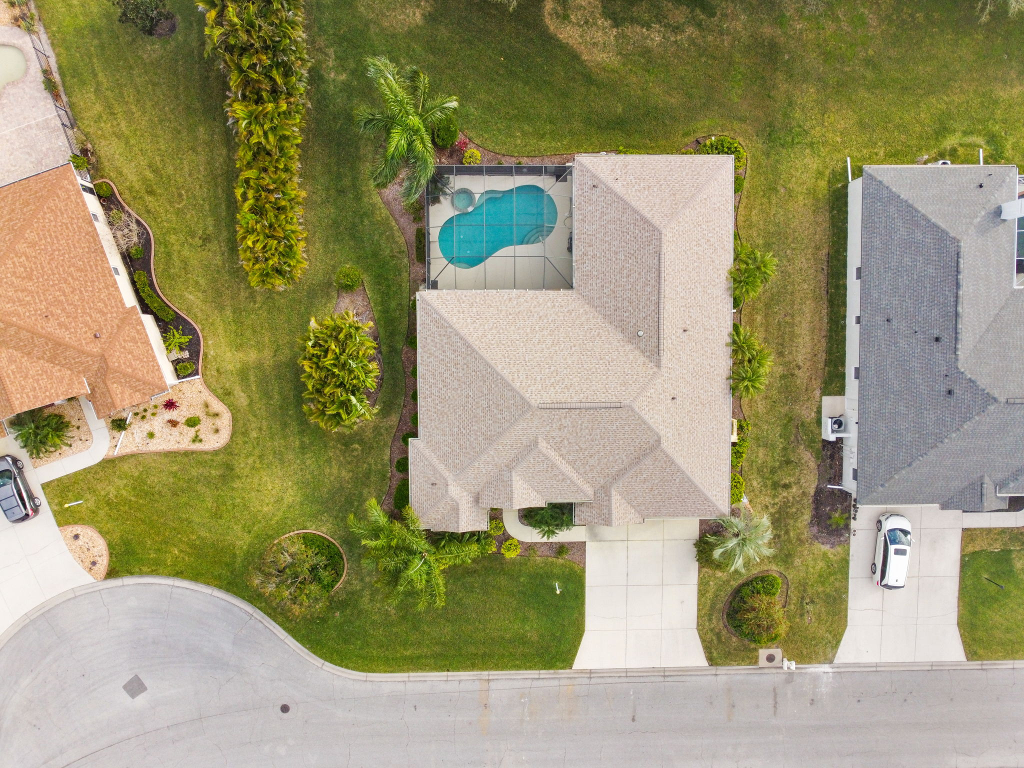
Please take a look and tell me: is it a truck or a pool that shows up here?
pool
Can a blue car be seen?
No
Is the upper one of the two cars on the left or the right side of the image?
left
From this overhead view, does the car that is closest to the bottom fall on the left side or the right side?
right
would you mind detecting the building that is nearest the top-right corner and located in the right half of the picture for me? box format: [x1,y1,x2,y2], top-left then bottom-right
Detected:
[843,164,1024,511]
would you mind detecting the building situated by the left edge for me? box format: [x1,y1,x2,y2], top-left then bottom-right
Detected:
[0,162,178,440]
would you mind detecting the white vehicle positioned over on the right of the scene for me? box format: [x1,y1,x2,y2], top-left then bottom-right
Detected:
[871,511,915,588]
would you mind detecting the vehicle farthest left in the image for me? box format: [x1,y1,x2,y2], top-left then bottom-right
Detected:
[0,452,39,528]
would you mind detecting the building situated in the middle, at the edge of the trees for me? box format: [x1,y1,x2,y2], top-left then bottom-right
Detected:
[408,153,735,532]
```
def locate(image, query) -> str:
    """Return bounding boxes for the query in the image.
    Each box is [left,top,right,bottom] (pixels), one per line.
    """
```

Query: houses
[0,162,178,440]
[843,164,1024,511]
[408,153,735,532]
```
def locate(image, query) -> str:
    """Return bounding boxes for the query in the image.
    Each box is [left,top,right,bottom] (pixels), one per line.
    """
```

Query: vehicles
[871,511,915,588]
[0,452,39,528]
